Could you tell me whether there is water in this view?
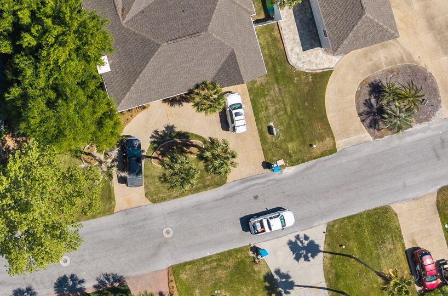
No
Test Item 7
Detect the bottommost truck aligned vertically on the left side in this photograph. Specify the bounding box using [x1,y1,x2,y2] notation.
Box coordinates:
[123,135,145,187]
